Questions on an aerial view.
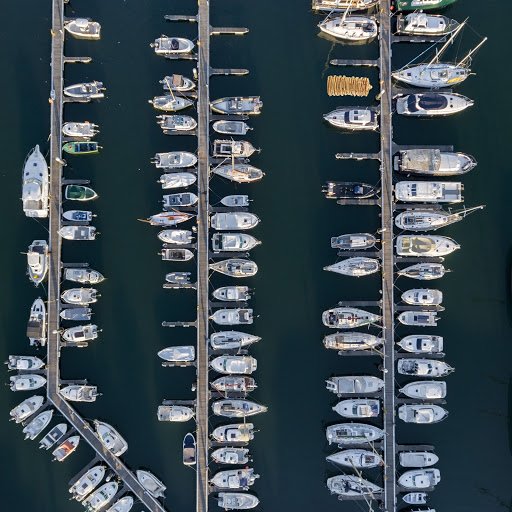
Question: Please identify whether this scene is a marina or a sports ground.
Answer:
marina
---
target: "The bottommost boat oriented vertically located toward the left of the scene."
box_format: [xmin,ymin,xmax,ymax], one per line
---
[182,427,198,465]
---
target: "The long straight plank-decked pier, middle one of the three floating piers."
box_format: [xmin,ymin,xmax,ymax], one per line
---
[162,0,250,512]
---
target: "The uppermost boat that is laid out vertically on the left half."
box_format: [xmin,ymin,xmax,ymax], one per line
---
[22,144,52,218]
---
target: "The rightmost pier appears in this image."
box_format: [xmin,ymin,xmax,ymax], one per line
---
[329,0,454,512]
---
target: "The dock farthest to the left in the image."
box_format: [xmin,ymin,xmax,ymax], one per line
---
[18,0,168,512]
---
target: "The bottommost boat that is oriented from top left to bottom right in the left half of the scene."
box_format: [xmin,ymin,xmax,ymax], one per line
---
[136,469,166,497]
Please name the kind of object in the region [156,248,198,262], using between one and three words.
boat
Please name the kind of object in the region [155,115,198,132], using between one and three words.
boat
